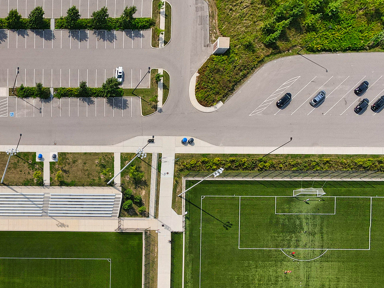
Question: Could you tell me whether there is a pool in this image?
No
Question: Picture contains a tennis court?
No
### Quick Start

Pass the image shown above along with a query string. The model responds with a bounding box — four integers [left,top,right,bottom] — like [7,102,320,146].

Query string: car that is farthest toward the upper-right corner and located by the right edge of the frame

[355,80,372,95]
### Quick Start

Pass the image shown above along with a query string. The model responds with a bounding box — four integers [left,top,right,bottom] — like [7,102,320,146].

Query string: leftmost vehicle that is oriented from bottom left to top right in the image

[277,93,295,108]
